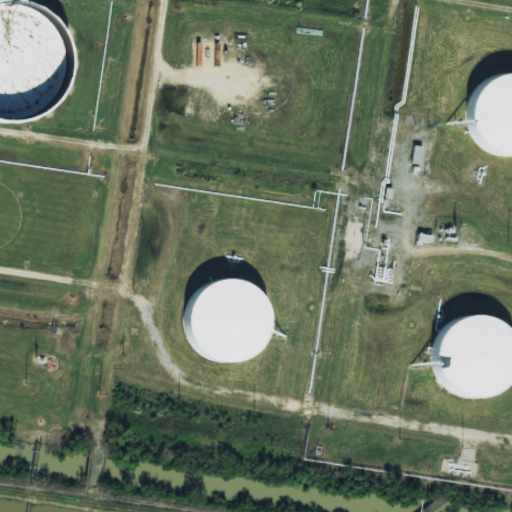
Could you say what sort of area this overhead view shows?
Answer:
industrial area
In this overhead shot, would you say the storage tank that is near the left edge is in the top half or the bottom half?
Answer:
top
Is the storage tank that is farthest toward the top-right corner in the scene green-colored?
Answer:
No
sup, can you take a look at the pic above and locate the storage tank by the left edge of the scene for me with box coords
[0,0,78,125]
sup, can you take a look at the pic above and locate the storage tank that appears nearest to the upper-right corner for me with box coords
[444,73,512,161]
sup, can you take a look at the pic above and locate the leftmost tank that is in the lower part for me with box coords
[182,276,288,366]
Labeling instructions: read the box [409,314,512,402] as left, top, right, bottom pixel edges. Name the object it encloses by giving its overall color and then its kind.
white storage tank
